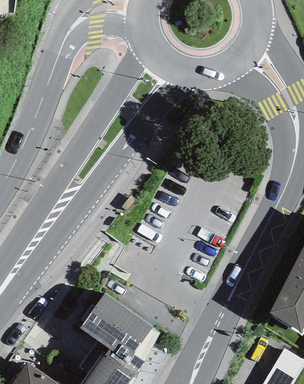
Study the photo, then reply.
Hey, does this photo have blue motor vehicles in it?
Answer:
Yes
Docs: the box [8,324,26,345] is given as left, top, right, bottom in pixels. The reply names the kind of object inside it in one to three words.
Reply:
car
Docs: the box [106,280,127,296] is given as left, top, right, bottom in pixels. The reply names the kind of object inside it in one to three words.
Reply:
car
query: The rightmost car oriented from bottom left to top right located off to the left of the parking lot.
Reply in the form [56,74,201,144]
[28,296,46,320]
